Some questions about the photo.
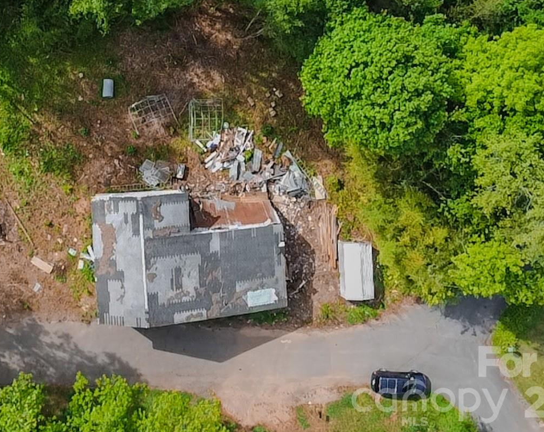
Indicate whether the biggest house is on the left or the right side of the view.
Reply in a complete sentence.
The biggest house is on the left side of the image.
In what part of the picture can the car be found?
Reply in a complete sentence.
The car sits in the bottom right section of the image.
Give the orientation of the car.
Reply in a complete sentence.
The car has been laid out from side to side relative to the frame.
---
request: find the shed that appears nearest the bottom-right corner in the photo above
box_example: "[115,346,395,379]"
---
[332,239,374,303]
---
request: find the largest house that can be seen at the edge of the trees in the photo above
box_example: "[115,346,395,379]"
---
[90,190,289,333]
